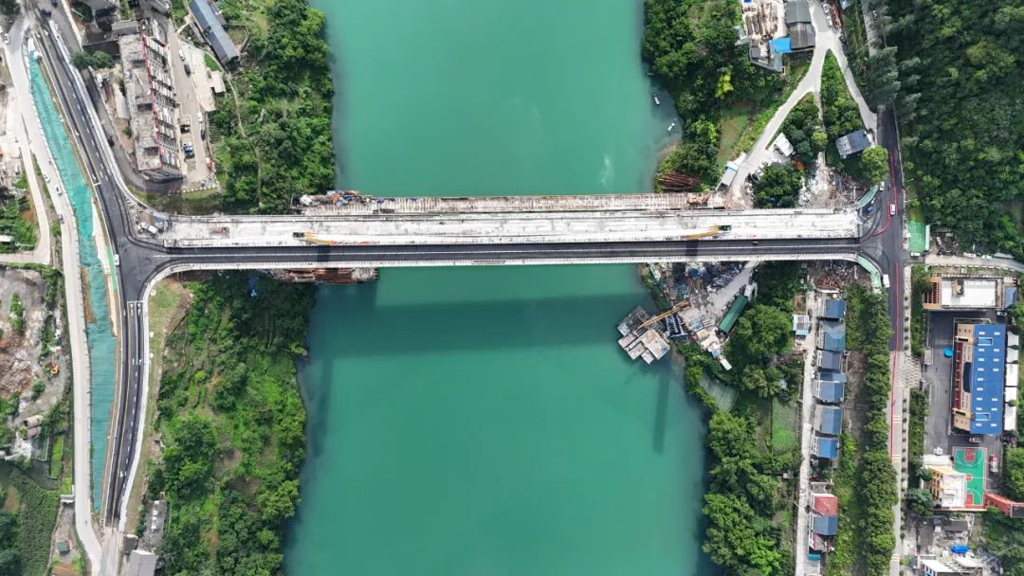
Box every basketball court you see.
[953,447,987,511]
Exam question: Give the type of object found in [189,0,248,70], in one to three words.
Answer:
shed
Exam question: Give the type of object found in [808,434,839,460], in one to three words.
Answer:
house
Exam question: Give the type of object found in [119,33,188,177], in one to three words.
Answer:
building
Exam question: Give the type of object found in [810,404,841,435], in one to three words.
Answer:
house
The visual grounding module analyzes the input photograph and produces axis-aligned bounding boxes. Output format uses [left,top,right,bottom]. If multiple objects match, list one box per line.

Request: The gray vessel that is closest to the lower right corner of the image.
[617,305,670,364]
